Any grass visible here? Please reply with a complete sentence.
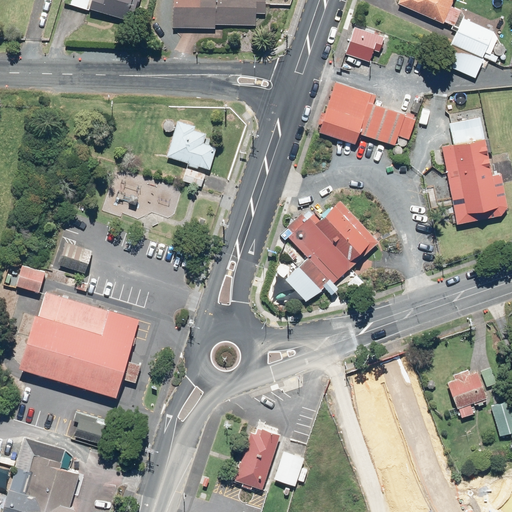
Yes, some grass is visible.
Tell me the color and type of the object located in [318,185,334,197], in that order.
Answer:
white vehicle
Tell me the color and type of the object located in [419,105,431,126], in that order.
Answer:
white vehicle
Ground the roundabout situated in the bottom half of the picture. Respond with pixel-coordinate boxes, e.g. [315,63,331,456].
[210,340,241,372]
